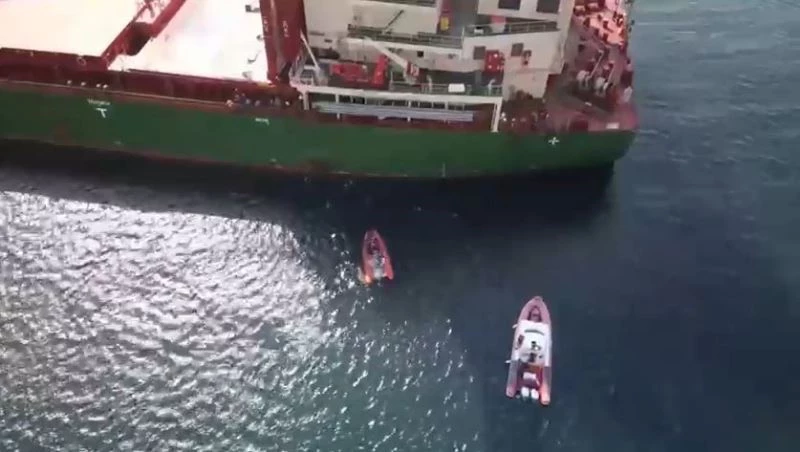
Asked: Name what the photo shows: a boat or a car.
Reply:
boat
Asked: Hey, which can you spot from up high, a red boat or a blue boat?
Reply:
red boat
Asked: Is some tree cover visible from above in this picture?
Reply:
No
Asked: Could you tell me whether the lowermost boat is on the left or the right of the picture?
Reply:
right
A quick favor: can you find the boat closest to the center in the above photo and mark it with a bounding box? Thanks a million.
[362,229,393,283]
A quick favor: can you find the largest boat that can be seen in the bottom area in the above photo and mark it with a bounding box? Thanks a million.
[505,297,552,407]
